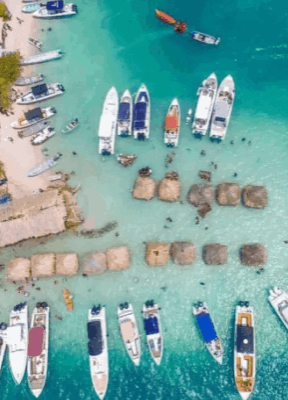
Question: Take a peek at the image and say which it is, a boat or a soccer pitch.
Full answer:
The image shows a boat.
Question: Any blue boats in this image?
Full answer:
Yes, the picture does show a blue boat.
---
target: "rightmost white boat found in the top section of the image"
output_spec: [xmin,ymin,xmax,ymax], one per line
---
[210,74,234,145]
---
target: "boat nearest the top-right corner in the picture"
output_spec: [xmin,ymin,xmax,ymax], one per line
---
[194,32,224,47]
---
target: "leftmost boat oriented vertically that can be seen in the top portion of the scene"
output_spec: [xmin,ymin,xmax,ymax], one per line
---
[98,86,119,159]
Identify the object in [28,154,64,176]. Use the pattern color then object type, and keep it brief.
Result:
white boat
